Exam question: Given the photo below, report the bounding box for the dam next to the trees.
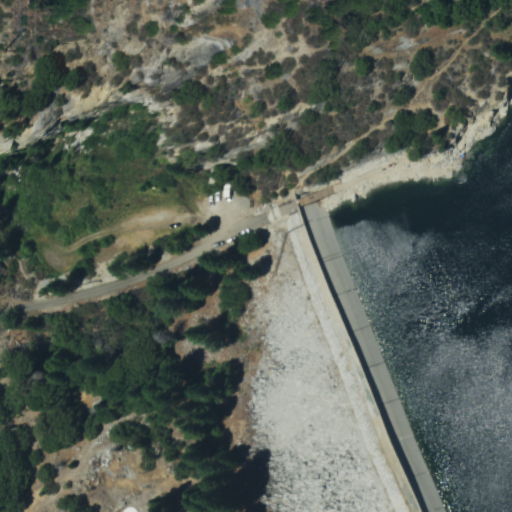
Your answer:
[242,200,446,512]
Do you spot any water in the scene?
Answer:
Yes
